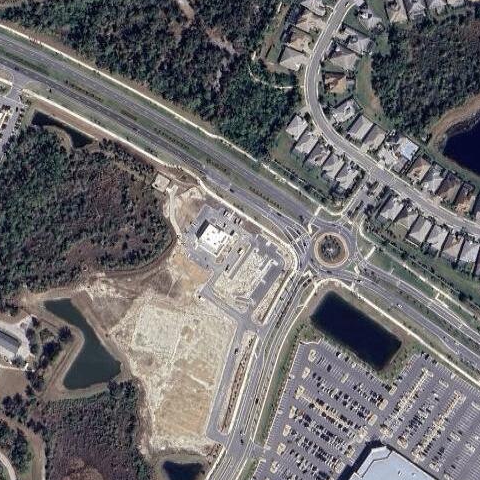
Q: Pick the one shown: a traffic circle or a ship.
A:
traffic circle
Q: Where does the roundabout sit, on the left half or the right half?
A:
right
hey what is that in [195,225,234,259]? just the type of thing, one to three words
building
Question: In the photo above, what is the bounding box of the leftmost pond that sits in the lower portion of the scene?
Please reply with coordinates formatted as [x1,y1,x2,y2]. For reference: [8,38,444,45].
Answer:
[47,299,121,389]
